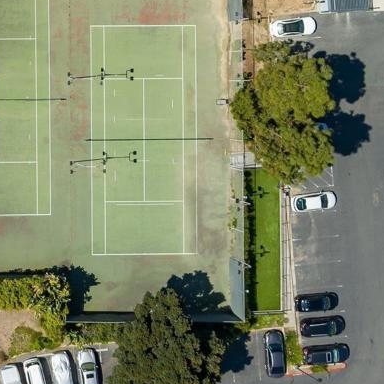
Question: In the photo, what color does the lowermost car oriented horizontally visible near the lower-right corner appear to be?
black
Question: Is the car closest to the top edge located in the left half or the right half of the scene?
right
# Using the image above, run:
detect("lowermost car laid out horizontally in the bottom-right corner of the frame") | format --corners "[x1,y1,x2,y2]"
[299,341,349,365]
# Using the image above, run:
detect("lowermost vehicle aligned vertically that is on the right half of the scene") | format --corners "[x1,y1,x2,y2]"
[261,327,286,377]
